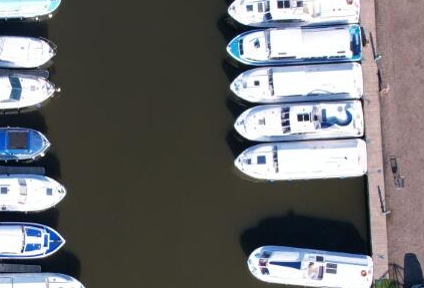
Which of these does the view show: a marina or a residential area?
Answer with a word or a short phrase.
marina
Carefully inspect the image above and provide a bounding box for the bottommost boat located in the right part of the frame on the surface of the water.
[248,246,375,288]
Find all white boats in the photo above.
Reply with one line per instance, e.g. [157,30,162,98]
[0,174,66,214]
[230,63,362,104]
[227,25,363,67]
[228,0,360,28]
[0,274,84,288]
[248,246,375,288]
[0,74,61,112]
[235,104,365,143]
[235,141,367,182]
[0,36,59,69]
[0,223,65,259]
